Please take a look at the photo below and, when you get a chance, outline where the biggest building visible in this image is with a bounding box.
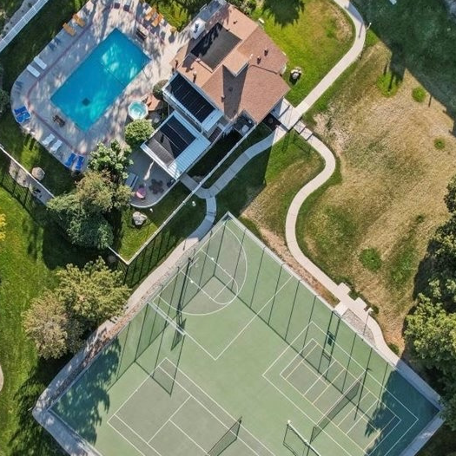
[169,3,290,133]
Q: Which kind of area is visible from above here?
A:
sports ground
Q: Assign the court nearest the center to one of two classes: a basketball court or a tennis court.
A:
basketball court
